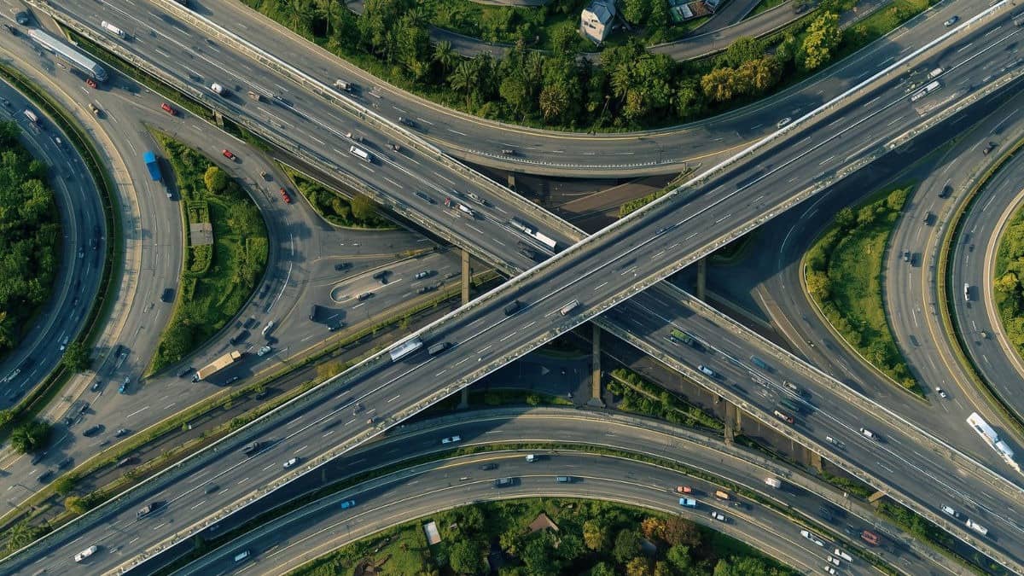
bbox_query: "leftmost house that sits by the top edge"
[583,0,619,42]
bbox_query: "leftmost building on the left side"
[188,224,213,249]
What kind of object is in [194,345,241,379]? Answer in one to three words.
truck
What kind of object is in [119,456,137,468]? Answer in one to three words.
vehicle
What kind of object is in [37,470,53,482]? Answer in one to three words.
vehicle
